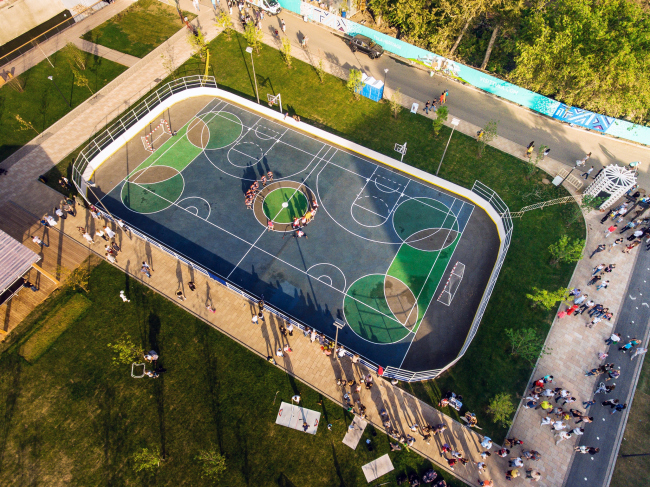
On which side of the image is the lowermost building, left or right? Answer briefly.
left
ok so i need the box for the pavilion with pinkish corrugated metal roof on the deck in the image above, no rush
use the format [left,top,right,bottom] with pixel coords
[0,227,58,323]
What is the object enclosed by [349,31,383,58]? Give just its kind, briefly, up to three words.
car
